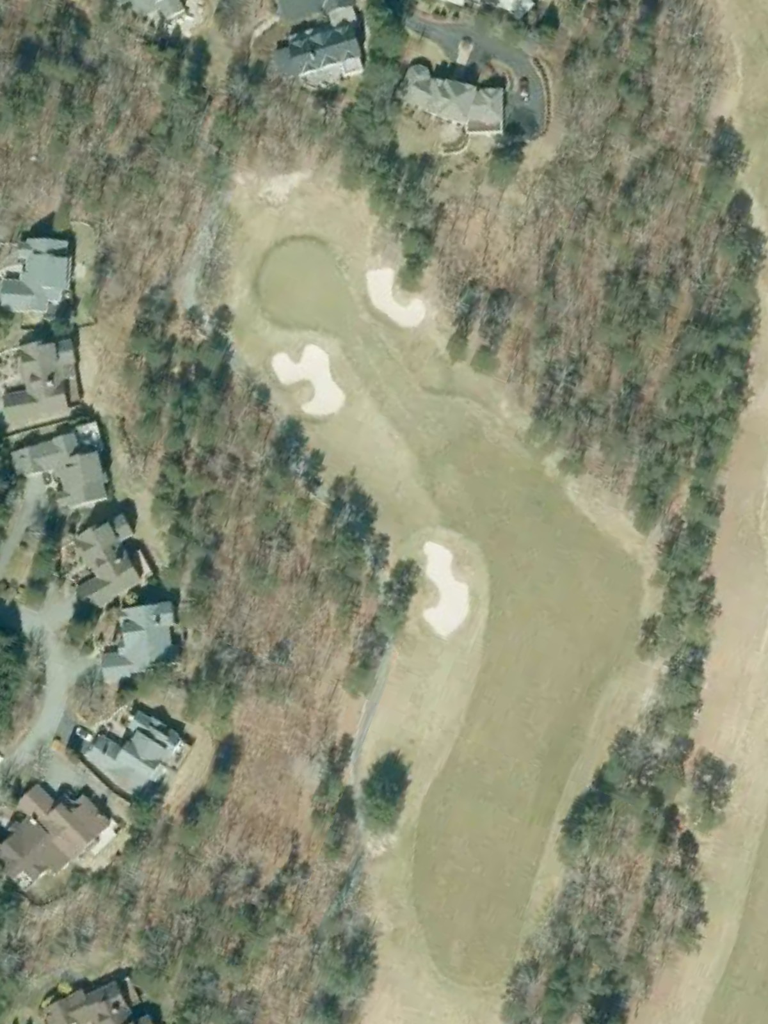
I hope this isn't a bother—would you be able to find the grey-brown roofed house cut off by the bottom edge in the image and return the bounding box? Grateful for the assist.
[41,977,140,1024]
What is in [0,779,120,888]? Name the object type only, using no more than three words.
house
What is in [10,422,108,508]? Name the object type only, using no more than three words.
house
